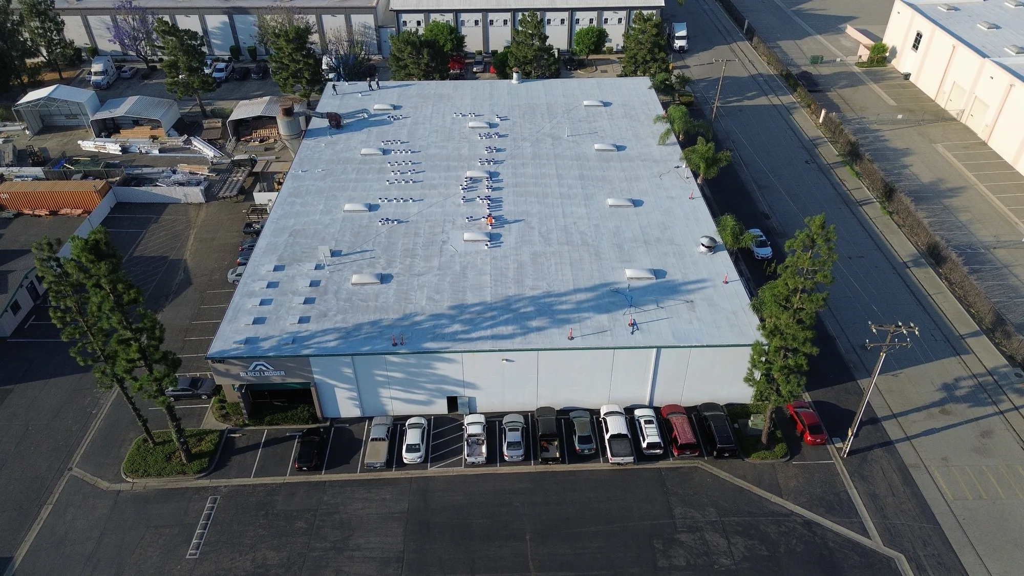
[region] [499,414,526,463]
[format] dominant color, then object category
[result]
gray car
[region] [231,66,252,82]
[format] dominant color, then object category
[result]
black car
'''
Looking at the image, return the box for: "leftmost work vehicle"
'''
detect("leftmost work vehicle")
[22,144,48,169]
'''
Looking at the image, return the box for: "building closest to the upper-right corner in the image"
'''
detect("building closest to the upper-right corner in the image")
[884,0,1024,177]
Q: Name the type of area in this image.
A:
industrial area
